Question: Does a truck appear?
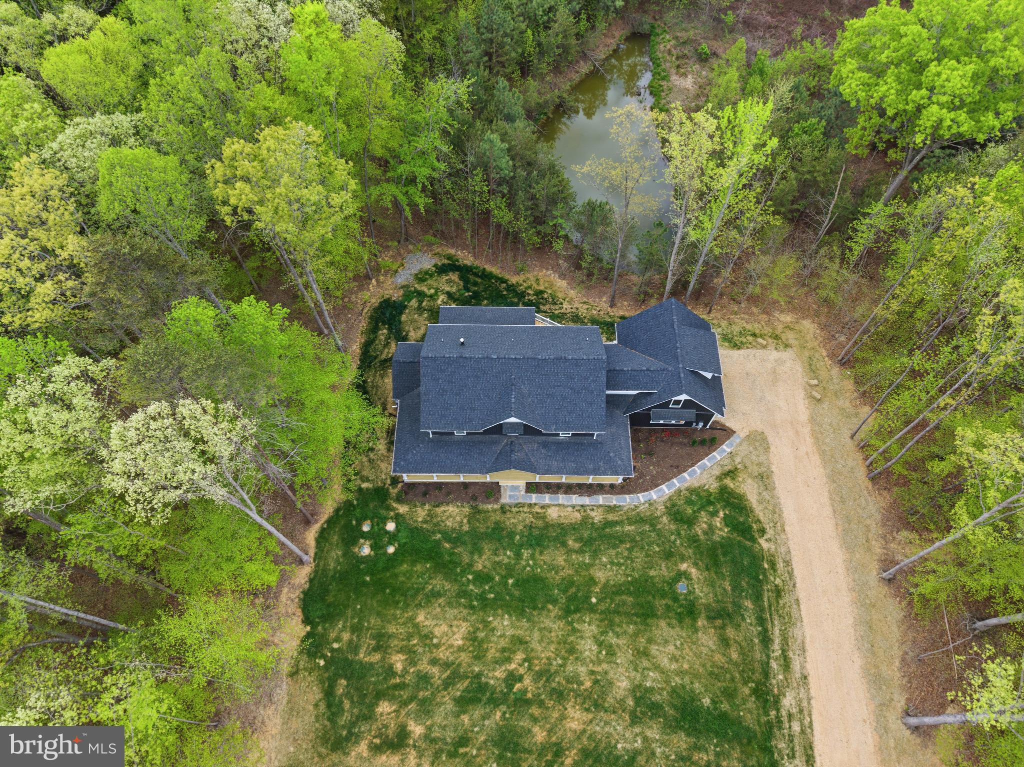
No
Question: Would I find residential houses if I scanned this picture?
Yes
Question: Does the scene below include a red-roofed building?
No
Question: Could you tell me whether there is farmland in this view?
No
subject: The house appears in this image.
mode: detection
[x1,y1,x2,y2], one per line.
[390,299,724,489]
